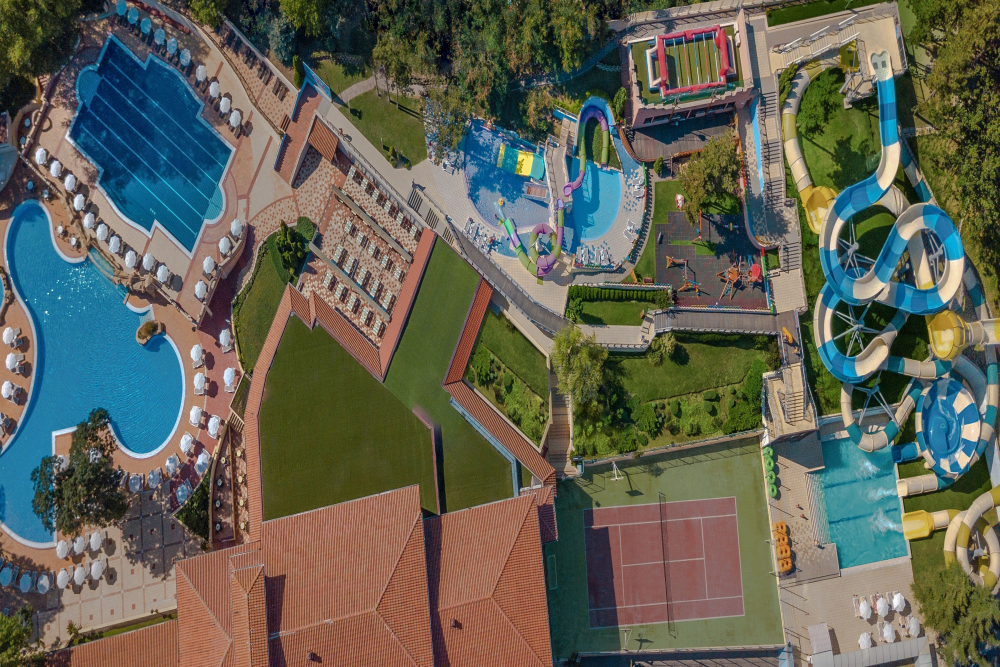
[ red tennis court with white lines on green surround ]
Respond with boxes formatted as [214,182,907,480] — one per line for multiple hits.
[553,441,782,656]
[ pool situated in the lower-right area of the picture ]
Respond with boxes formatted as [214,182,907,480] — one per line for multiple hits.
[818,434,911,569]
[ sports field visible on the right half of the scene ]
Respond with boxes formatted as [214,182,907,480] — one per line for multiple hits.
[643,24,746,104]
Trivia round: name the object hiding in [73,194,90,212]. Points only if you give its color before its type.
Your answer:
white umbrella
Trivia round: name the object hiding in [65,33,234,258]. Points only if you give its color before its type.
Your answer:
blue swimming pool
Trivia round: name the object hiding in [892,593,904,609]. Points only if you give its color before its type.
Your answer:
white umbrella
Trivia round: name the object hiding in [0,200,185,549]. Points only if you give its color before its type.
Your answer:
blue swimming pool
